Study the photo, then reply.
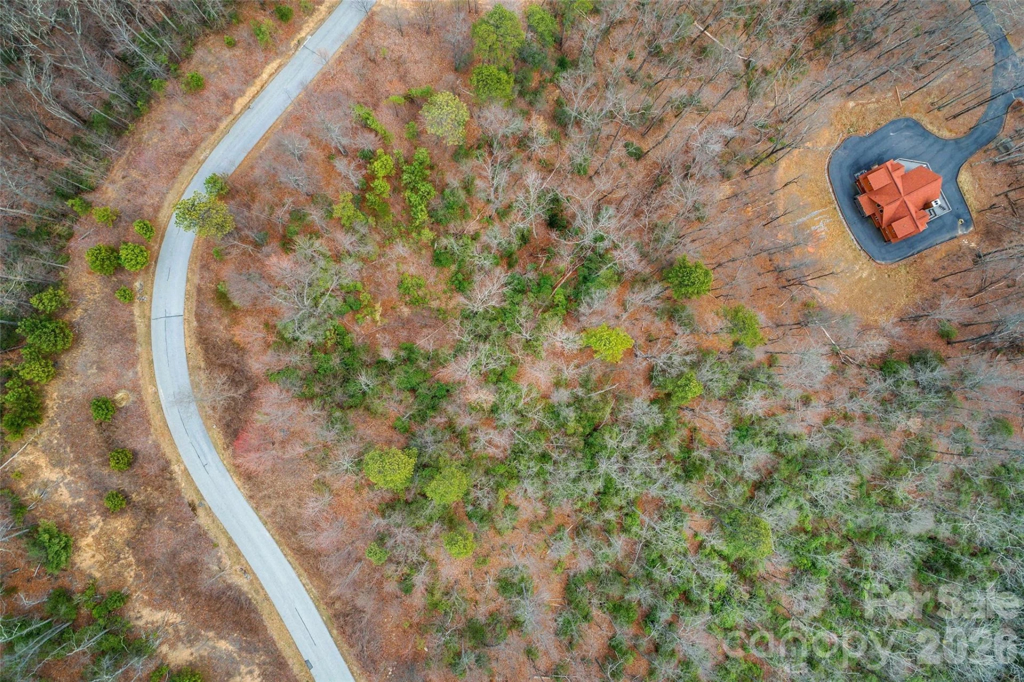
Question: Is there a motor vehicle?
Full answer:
No, there's no motor vehicle here.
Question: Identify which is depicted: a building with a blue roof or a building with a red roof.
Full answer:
Visible in the photo is a building with a red roof.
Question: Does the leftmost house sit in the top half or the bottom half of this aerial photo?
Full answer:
It is in the top half that the leftmost house appears.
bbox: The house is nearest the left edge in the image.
[845,159,942,243]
